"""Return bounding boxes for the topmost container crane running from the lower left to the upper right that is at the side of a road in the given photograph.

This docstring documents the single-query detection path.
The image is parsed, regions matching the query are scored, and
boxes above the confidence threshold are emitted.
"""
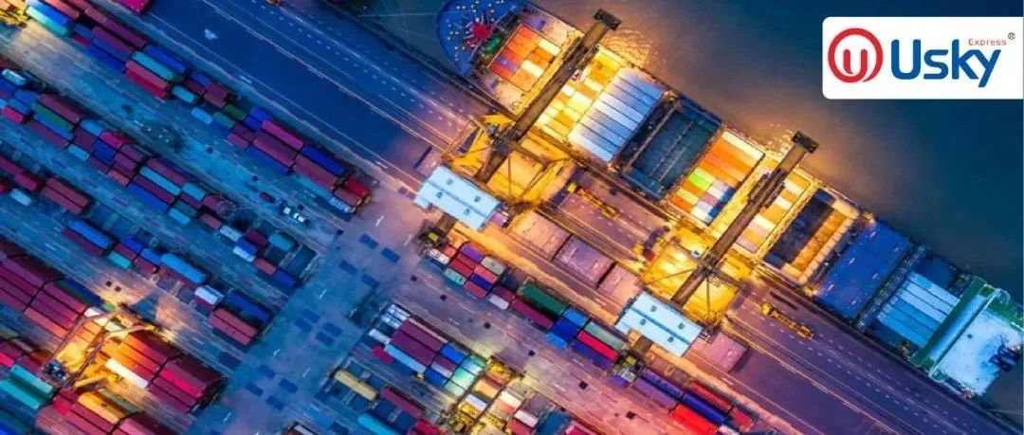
[413,3,625,248]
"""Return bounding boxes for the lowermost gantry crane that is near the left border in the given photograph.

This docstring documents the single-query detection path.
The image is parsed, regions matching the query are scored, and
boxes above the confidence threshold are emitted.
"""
[51,310,137,388]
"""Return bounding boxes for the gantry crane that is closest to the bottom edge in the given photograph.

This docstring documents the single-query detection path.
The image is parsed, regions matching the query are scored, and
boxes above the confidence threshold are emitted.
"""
[440,352,521,433]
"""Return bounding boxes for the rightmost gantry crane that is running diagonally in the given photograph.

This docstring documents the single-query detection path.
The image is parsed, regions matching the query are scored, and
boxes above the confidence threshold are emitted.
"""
[611,122,824,381]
